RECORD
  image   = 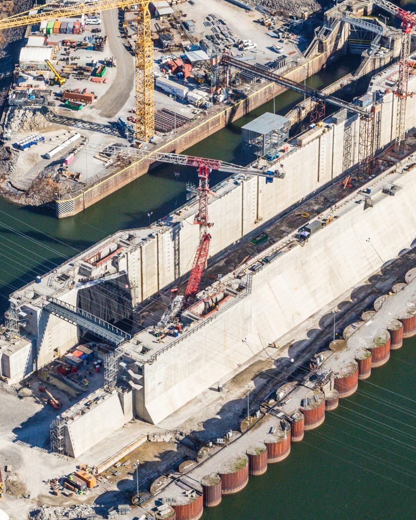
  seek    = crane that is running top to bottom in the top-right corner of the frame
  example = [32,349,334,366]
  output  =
[337,0,416,152]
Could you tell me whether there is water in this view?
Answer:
Yes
